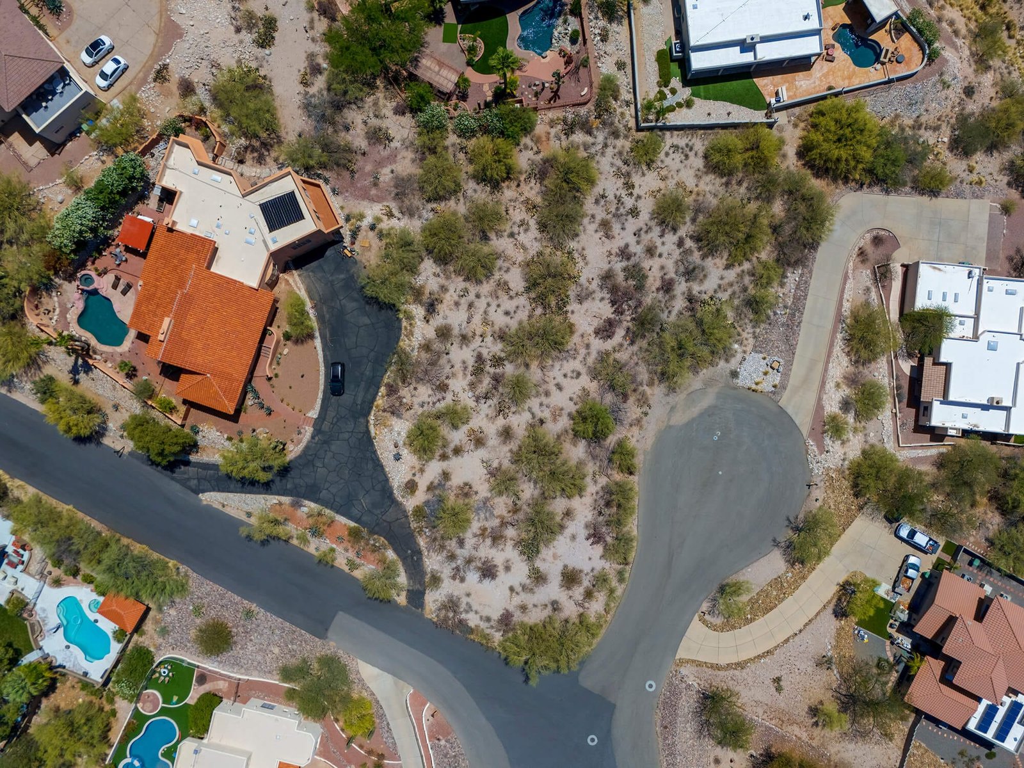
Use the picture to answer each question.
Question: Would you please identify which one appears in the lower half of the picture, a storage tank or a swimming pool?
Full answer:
Visible in the lower half of the picture is a swimming pool.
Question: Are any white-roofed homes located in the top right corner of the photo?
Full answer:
Yes, looking in the top right corner of the photo, one can make out a white-roofed home.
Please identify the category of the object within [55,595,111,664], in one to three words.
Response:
swimming pool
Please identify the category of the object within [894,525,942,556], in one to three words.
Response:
truck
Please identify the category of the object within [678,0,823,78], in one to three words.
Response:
house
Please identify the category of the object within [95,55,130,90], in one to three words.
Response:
car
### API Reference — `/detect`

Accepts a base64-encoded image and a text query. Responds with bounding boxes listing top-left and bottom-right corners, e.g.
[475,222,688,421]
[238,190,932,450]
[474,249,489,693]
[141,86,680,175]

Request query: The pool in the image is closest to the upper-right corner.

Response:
[832,22,882,68]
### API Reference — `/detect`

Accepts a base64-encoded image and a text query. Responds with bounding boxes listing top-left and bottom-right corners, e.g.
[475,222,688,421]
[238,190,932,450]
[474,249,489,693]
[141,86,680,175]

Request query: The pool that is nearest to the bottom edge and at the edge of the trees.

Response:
[123,715,180,768]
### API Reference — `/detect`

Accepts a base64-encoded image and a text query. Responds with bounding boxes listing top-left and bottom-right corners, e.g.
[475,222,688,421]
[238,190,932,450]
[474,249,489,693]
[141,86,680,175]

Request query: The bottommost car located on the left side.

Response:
[328,361,345,396]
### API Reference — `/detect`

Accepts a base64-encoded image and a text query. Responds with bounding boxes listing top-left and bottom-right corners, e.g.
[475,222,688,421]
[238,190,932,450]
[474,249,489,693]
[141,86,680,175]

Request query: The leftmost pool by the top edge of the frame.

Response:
[516,0,569,56]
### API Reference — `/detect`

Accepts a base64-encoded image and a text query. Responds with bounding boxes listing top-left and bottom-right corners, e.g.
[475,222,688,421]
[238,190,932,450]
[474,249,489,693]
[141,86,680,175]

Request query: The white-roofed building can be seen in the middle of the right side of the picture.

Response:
[901,261,1024,437]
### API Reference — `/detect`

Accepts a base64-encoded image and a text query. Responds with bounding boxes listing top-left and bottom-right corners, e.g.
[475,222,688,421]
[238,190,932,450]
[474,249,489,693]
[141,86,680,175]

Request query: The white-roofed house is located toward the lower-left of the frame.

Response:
[173,689,328,768]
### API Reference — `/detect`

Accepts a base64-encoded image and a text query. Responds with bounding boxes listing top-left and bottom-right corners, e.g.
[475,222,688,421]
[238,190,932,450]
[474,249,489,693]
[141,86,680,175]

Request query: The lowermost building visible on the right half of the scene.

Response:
[899,566,1024,753]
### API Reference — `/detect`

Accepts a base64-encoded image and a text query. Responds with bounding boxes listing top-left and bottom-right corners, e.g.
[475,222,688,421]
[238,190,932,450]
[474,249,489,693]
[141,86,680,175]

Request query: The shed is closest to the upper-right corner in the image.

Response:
[845,0,899,33]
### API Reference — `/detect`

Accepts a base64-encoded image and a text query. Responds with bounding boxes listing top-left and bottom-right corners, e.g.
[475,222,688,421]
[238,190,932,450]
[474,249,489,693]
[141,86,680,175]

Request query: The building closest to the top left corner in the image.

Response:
[0,0,102,144]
